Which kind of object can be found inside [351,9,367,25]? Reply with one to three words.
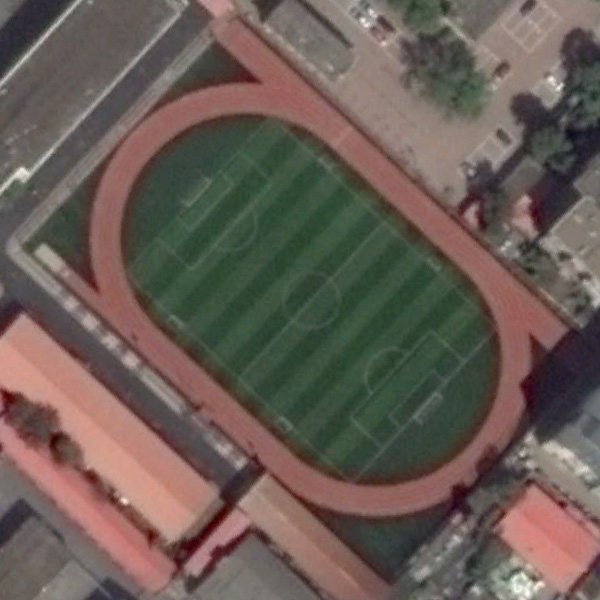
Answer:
car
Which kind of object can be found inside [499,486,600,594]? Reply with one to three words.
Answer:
house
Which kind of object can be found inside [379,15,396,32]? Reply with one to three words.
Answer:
vehicle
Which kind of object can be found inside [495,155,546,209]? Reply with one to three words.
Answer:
shed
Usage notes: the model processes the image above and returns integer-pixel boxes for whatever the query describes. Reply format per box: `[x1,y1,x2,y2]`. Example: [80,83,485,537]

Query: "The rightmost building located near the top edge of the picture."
[419,0,514,45]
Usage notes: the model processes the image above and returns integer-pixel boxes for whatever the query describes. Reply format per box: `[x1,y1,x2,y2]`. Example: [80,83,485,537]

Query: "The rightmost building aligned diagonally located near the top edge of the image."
[260,0,355,81]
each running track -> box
[59,17,588,520]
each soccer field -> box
[121,112,496,487]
